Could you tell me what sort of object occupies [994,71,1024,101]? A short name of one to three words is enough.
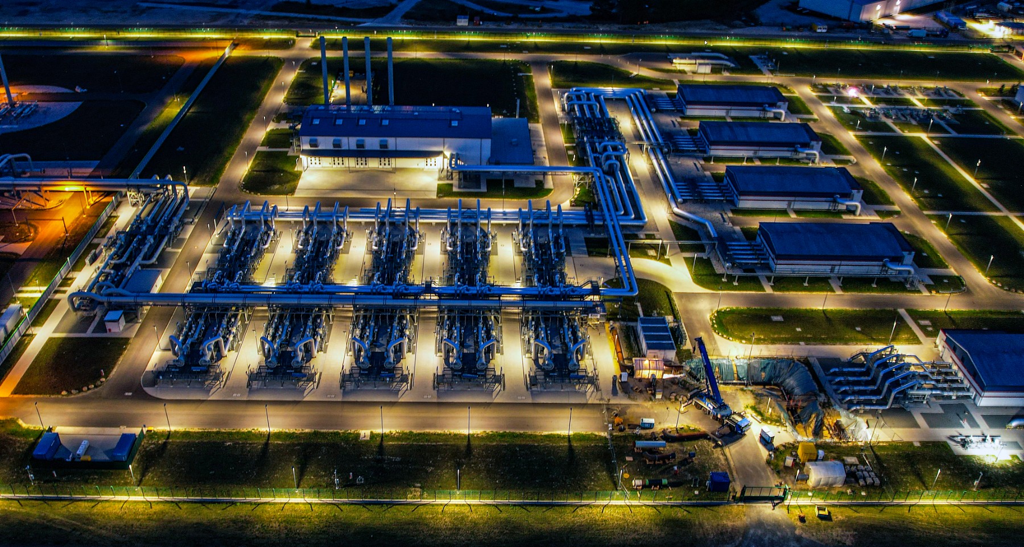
building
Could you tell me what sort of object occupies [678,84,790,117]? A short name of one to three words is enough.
building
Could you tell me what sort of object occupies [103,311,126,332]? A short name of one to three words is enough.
shed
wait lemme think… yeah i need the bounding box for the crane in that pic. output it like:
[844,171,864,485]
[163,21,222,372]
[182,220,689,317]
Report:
[685,336,757,431]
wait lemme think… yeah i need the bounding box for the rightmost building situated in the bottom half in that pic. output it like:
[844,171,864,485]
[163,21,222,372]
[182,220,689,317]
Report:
[941,332,1024,406]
